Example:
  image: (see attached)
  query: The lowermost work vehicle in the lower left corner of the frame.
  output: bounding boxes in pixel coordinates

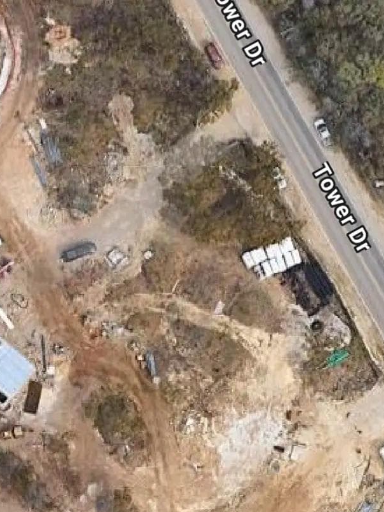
[0,426,22,442]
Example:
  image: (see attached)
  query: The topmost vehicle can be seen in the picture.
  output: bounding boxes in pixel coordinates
[204,41,225,68]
